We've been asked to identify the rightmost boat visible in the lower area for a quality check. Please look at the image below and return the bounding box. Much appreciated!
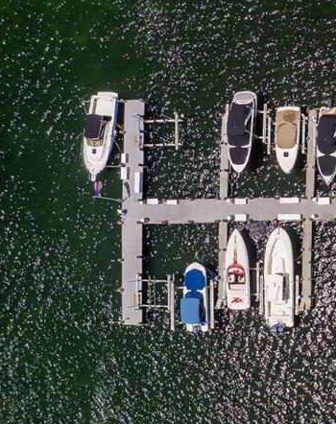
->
[264,229,297,336]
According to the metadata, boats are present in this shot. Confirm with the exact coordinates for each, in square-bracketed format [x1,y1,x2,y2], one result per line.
[226,231,253,309]
[264,229,297,336]
[83,90,124,181]
[275,108,301,174]
[226,91,256,173]
[316,101,336,184]
[179,263,210,335]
